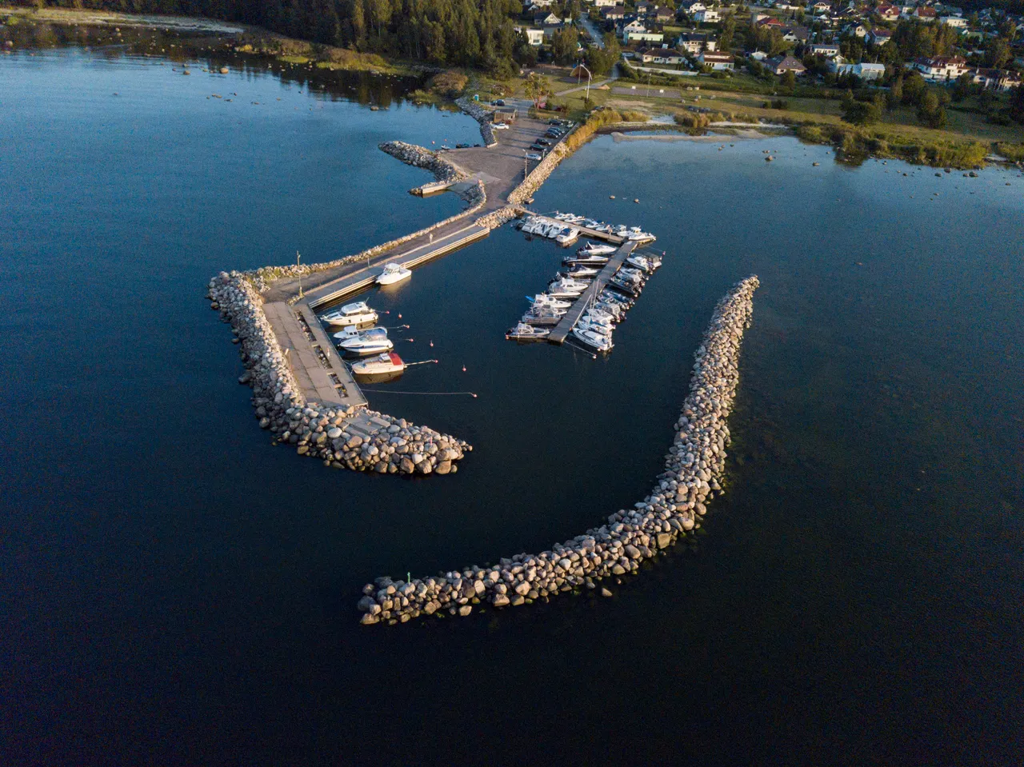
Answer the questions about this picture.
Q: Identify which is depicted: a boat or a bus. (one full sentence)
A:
There is a boat in the scene.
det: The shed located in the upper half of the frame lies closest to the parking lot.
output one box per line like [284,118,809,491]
[491,107,517,123]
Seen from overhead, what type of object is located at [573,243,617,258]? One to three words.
boat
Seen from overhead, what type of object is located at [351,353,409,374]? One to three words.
boat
